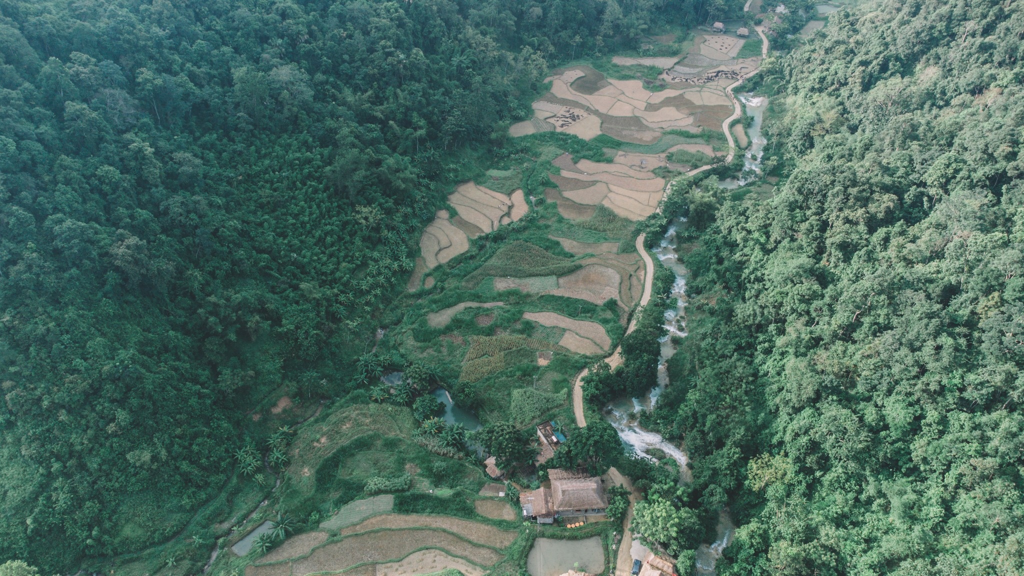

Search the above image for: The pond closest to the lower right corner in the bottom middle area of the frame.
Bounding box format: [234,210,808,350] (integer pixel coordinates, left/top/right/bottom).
[527,537,604,576]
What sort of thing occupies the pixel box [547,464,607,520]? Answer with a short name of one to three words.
house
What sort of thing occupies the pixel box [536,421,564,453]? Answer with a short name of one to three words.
building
